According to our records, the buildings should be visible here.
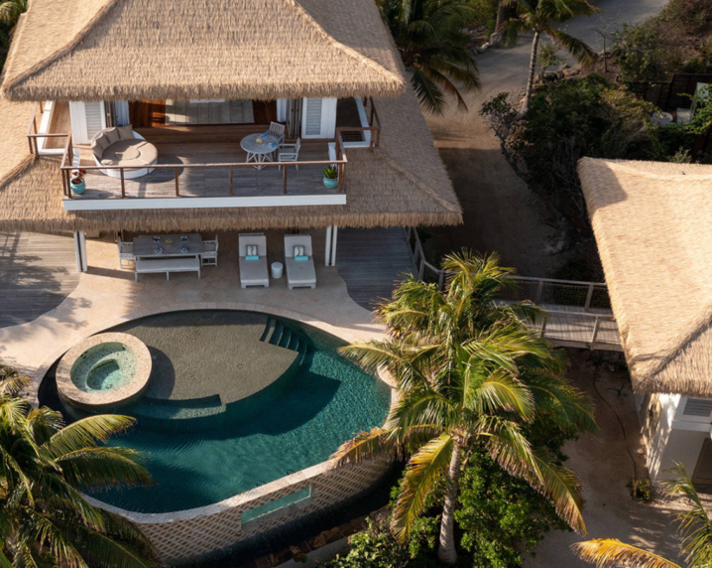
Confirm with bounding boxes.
[566,167,712,488]
[0,0,462,272]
